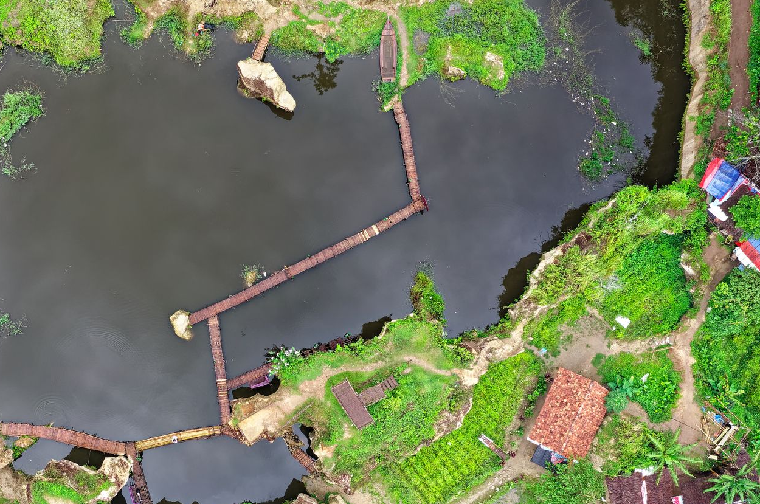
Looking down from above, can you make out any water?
Yes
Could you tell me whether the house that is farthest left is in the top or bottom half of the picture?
bottom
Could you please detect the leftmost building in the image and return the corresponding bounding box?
[520,368,609,469]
